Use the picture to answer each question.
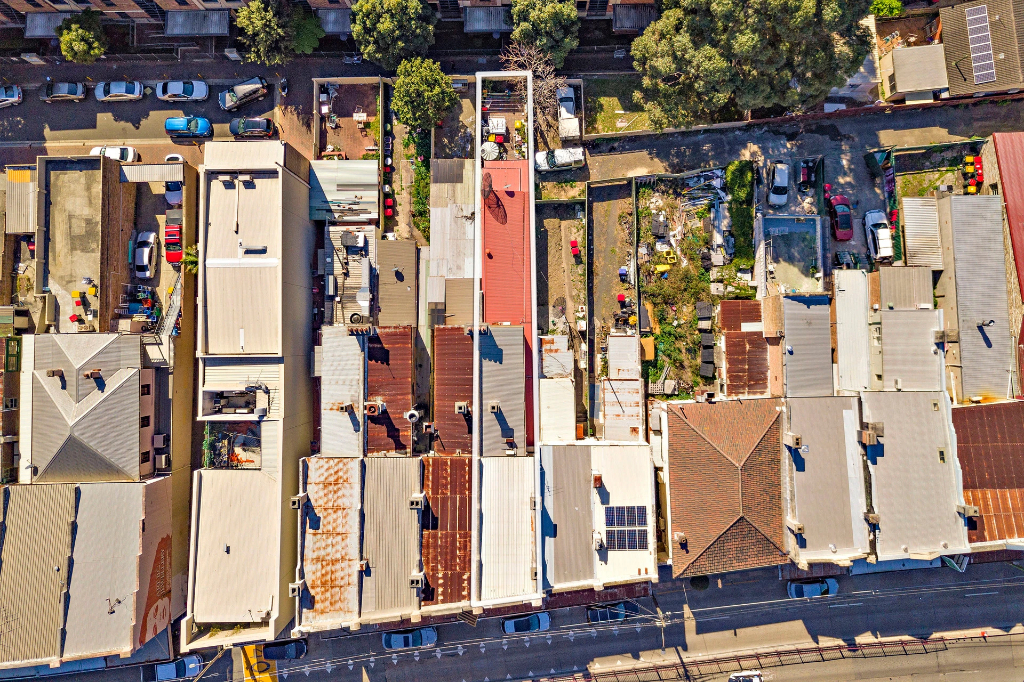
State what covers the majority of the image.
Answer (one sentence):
What you mostly see from above here is buildings.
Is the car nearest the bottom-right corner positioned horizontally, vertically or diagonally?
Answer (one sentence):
I'd say the car nearest the bottom-right corner is aligned horizontally in the picture.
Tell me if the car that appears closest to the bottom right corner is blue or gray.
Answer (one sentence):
From above, the car that appears closest to the bottom right corner appears blue.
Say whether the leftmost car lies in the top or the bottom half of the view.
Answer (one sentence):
Seen from above, the leftmost car lies in the top half of the view.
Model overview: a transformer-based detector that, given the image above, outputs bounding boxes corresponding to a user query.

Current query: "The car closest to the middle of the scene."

[535,147,586,172]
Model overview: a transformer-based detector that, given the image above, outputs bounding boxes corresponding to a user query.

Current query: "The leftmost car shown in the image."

[0,84,28,107]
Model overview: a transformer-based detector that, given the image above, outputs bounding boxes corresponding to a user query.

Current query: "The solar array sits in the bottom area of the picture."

[605,507,647,550]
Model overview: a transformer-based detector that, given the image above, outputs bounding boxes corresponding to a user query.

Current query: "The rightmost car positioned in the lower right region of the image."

[787,577,839,602]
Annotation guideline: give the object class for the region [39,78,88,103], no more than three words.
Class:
car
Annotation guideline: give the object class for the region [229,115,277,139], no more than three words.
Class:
car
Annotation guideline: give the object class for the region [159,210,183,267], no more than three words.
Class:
vehicle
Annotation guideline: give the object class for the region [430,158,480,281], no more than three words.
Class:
shed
